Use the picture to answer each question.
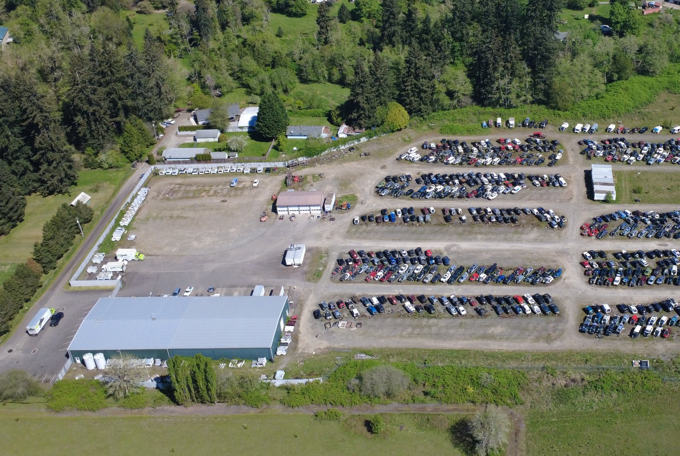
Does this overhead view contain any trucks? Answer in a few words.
Yes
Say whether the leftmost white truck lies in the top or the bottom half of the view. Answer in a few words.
bottom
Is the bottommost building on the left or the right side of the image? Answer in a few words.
left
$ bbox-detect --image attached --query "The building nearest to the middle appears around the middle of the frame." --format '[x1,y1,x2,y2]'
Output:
[276,190,325,215]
